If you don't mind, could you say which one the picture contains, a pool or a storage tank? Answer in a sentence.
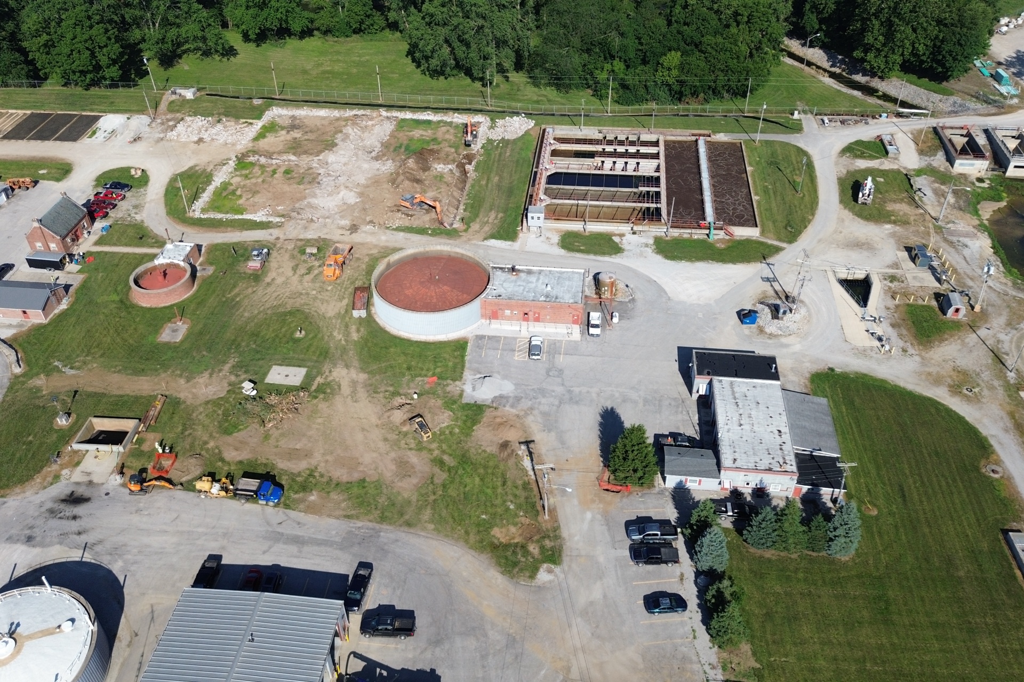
It is a storage tank that can be seen here.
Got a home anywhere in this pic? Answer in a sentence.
Yes, the frame does contain a home.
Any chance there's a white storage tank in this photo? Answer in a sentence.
Yes, the frame does contain a white storage tank.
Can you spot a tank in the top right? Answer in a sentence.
Yes, I can see a tank in the top right.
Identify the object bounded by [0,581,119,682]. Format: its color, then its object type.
white storage tank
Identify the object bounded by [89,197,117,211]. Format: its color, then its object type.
red car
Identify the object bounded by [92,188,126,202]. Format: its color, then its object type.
red vehicle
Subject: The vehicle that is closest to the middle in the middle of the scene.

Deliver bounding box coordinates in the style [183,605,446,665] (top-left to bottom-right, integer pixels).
[528,337,544,359]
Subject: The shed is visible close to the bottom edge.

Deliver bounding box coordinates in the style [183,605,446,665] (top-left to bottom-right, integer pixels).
[139,588,347,682]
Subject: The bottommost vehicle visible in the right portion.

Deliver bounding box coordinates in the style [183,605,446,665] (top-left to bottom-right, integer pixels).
[642,595,690,618]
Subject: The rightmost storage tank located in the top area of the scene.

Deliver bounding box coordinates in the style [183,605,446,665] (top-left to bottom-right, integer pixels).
[988,124,1024,172]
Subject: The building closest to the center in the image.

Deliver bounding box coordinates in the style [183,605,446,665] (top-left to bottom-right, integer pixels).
[483,262,592,321]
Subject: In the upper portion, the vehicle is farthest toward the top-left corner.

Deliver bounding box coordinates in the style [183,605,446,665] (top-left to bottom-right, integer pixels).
[1,174,34,190]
